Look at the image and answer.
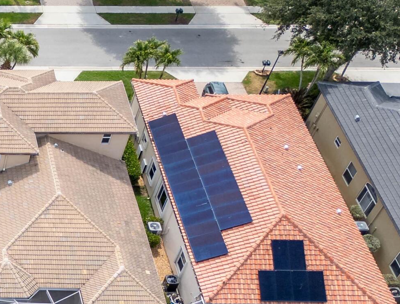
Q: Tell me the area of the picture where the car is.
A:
top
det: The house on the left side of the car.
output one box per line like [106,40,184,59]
[0,67,167,304]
